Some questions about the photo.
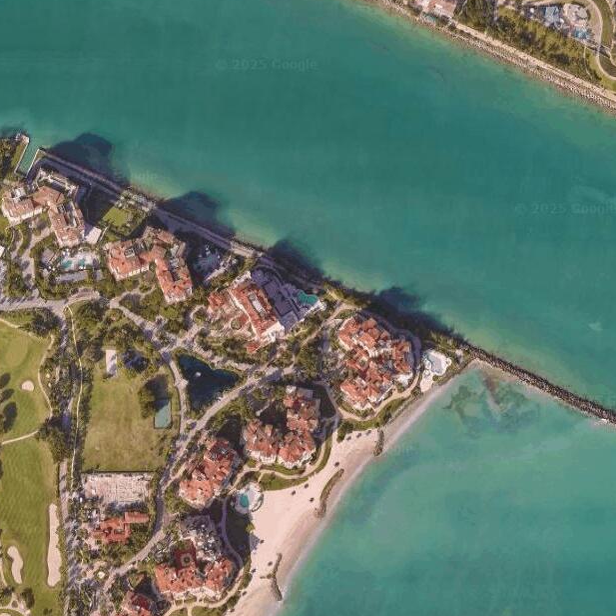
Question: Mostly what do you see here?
water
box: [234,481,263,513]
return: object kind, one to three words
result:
swimming pool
